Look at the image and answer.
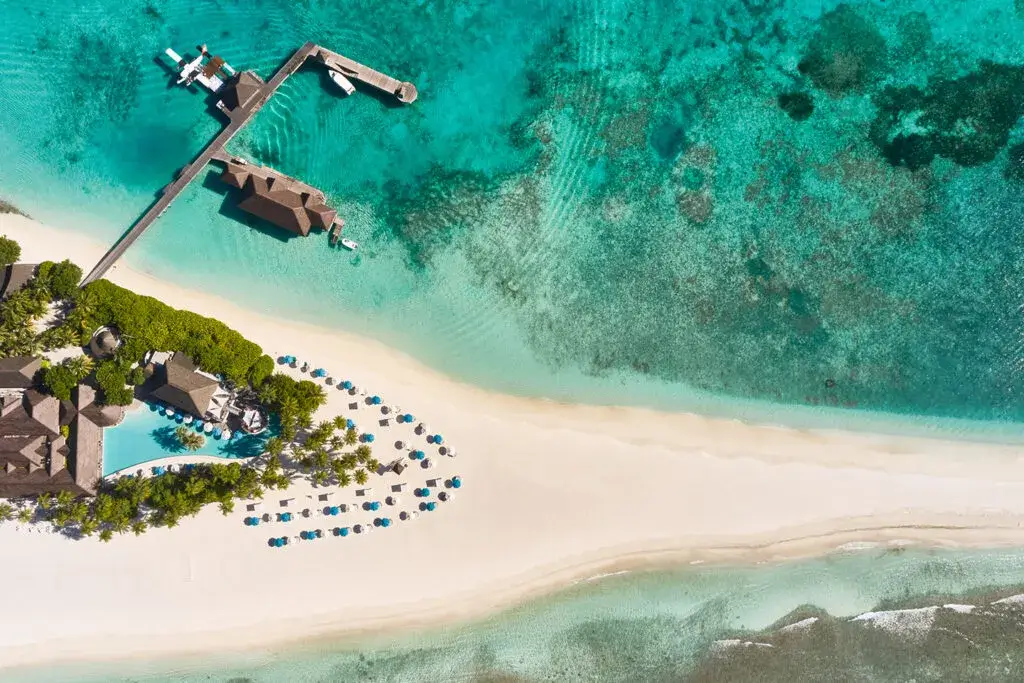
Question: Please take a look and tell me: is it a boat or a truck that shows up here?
boat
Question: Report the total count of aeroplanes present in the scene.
1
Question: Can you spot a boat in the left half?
Yes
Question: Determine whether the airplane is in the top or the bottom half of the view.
top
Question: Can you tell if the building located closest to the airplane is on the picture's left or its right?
left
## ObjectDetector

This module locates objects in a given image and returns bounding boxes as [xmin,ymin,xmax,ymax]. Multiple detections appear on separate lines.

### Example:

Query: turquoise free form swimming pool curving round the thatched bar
[105,402,285,477]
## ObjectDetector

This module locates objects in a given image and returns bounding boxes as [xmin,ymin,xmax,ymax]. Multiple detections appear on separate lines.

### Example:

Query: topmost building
[212,70,268,117]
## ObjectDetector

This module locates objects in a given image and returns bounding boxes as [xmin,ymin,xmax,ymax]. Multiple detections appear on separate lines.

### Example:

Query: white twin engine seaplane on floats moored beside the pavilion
[165,40,214,89]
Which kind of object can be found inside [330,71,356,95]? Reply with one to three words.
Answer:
boat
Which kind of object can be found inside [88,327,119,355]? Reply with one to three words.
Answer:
shed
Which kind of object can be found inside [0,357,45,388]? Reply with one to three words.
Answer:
house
